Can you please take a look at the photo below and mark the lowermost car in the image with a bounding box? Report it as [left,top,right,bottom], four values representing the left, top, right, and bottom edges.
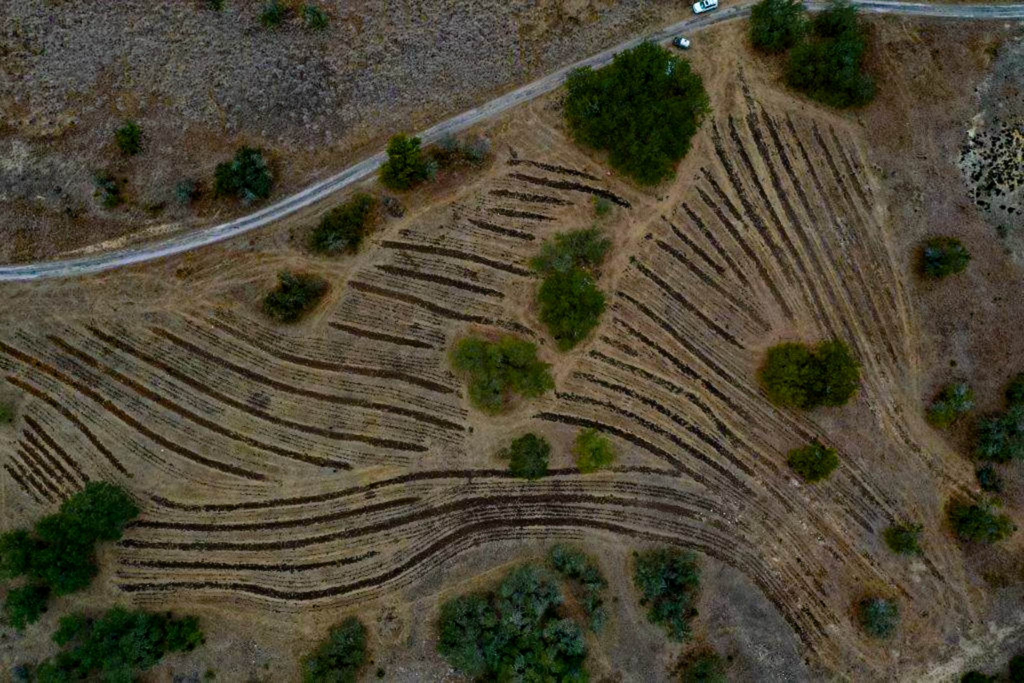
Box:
[670,38,691,53]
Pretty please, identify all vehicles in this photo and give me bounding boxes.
[692,0,721,15]
[670,38,691,53]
